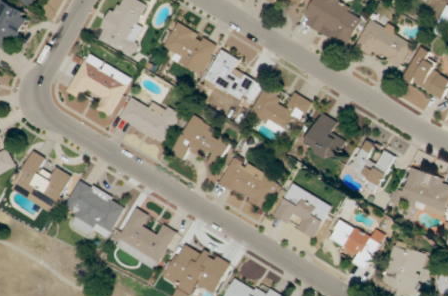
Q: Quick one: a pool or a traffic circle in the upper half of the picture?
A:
pool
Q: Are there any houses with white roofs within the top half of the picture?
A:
Yes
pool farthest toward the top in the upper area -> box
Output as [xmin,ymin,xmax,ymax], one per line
[153,4,173,28]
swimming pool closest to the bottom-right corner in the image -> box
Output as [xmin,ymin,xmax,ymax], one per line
[416,210,448,232]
